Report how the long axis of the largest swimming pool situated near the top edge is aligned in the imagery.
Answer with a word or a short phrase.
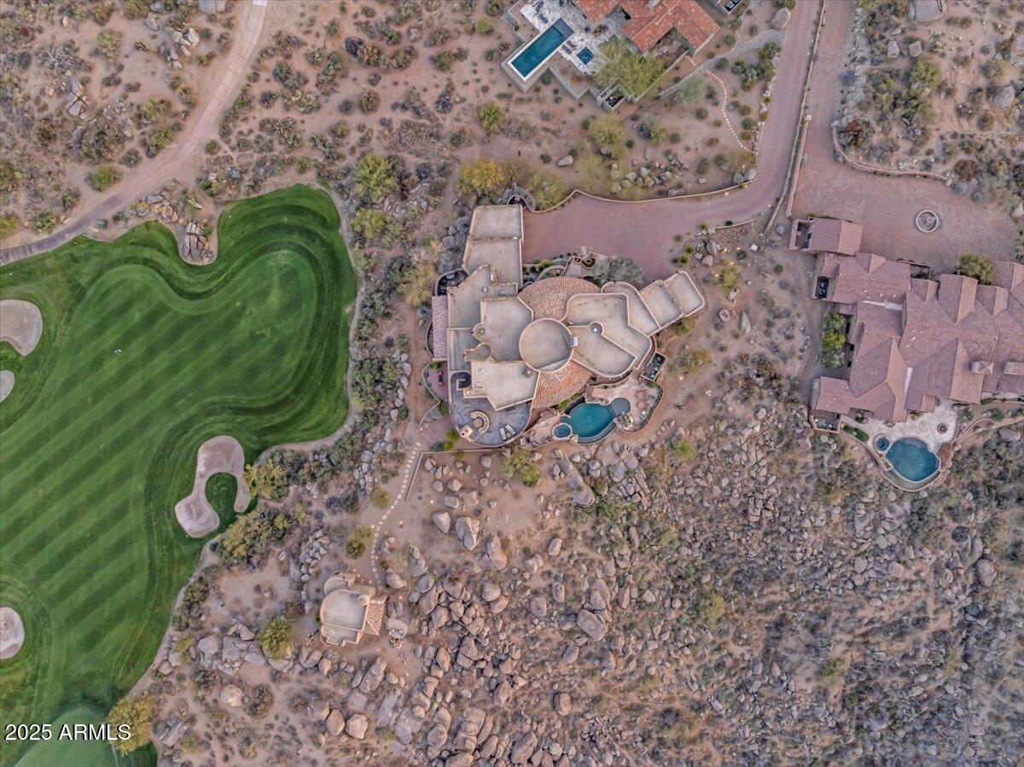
diagonally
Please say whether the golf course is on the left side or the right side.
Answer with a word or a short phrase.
left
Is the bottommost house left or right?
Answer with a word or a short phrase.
left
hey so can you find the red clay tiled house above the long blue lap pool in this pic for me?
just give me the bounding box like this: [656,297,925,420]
[568,0,721,99]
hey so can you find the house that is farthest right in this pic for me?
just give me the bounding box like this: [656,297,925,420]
[784,218,1024,433]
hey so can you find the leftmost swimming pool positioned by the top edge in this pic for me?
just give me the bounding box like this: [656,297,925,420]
[508,13,578,82]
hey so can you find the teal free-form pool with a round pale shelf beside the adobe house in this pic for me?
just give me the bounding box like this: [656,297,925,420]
[559,395,632,443]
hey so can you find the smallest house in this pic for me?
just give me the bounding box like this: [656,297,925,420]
[319,569,391,648]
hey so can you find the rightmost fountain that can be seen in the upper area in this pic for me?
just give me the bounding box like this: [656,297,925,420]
[916,209,940,232]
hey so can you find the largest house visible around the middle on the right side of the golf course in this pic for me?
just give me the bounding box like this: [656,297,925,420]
[432,205,704,446]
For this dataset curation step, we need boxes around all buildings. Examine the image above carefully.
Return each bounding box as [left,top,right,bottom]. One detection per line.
[319,569,391,648]
[432,205,704,446]
[784,218,1024,433]
[568,0,721,99]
